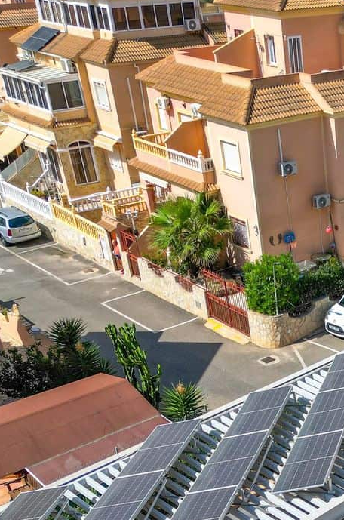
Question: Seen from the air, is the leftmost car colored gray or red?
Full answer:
From above, the leftmost car appears gray.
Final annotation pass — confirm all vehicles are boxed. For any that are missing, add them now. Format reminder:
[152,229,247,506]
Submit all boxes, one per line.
[0,202,52,245]
[317,291,344,338]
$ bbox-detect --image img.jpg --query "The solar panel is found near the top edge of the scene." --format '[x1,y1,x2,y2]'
[22,26,65,47]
